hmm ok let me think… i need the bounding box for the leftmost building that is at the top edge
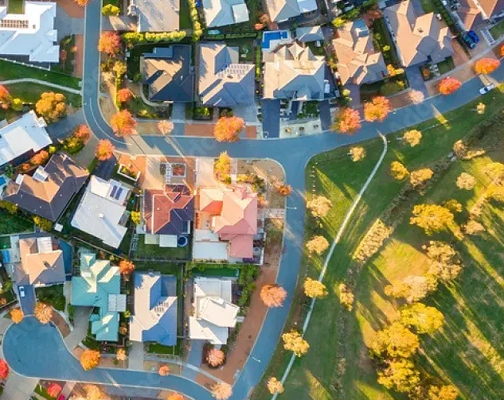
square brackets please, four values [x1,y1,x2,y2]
[0,1,59,62]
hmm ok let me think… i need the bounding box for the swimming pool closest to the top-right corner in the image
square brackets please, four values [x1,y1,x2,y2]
[261,30,292,51]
